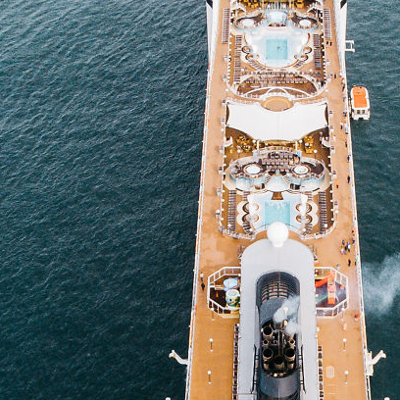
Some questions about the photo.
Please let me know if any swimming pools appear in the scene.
Yes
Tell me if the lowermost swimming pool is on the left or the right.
right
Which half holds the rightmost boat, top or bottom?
top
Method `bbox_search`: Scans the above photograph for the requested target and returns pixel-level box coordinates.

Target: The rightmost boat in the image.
[350,89,371,121]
